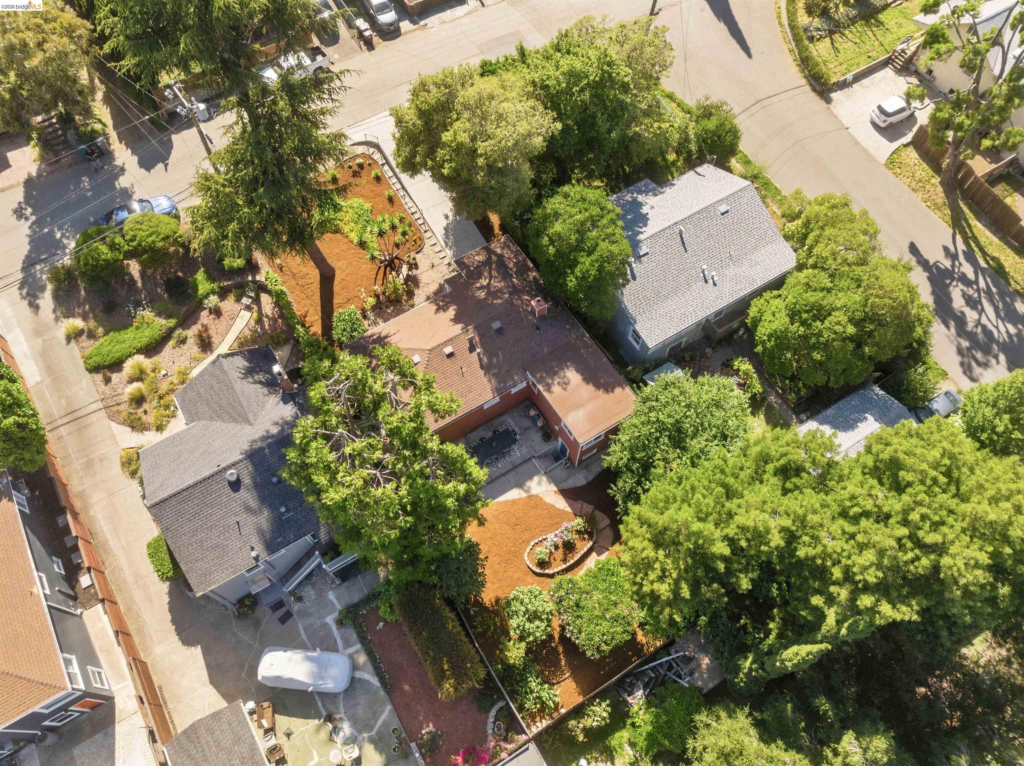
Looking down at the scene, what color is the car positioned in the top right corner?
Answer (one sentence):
The color of the car positioned in the top right corner is white.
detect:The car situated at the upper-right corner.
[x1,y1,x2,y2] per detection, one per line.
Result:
[874,96,928,132]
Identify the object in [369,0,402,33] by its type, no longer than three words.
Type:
car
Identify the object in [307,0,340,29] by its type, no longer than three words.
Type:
car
